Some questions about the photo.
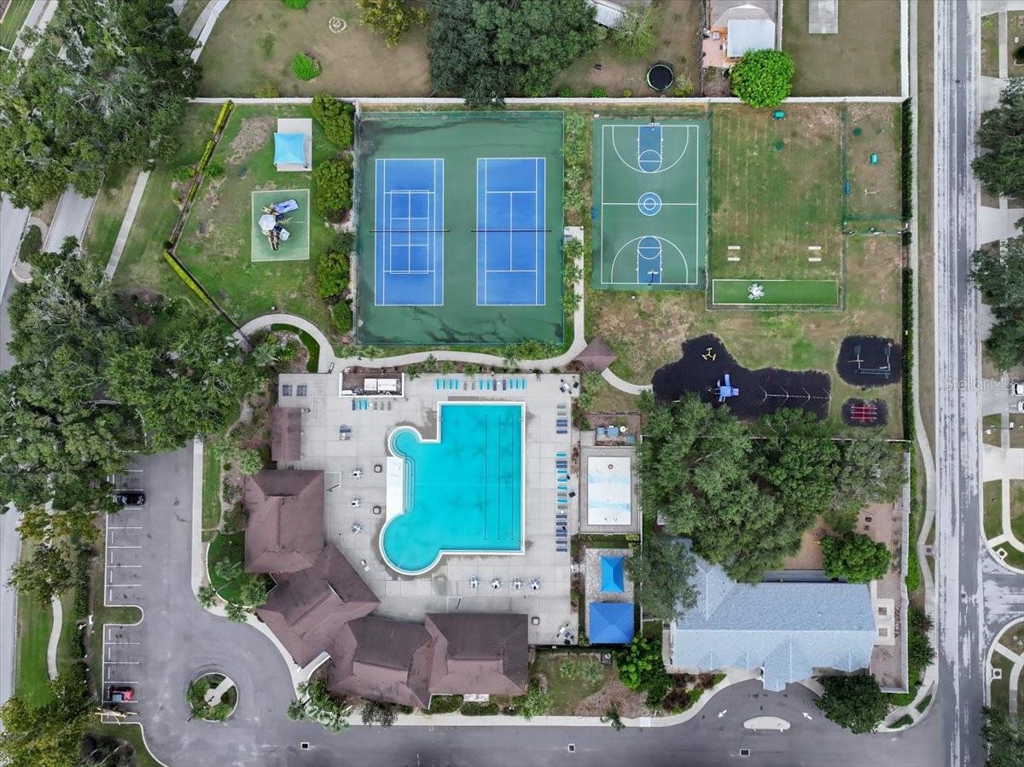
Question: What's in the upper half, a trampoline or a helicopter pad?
trampoline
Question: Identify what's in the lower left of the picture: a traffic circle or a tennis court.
traffic circle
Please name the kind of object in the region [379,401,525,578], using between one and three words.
swimming pool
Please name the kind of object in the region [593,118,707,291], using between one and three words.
basketball court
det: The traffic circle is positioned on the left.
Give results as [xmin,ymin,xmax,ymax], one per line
[187,671,239,723]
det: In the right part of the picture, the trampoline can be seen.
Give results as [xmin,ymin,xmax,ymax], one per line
[645,60,677,91]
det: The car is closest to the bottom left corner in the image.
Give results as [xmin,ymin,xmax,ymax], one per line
[108,686,135,701]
